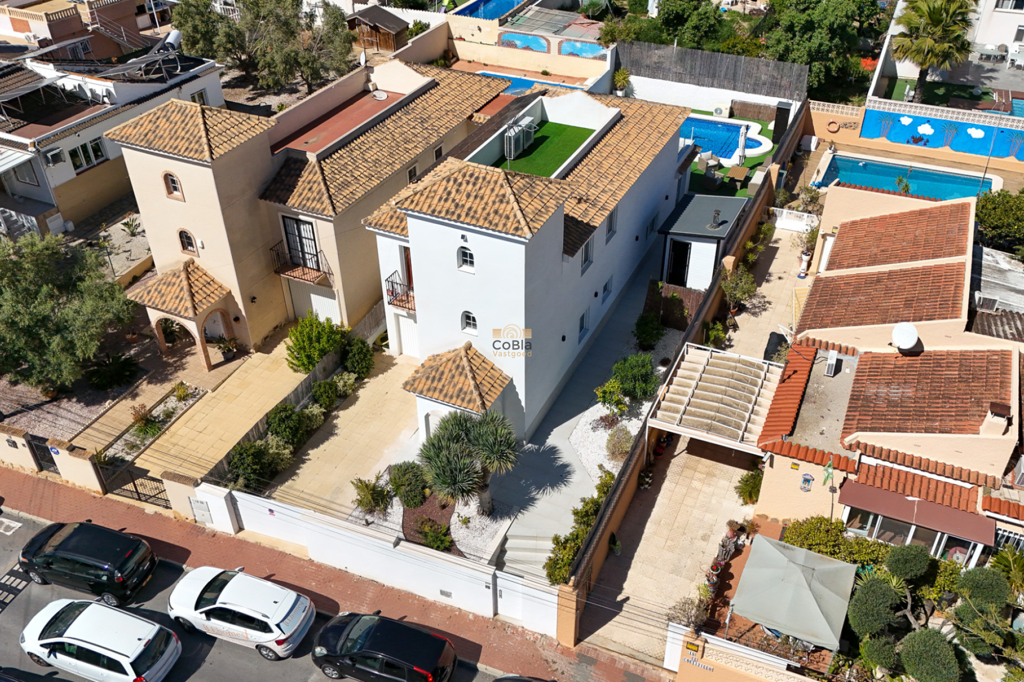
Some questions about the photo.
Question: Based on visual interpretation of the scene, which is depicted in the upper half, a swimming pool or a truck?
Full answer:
There is a swimming pool in the upper half.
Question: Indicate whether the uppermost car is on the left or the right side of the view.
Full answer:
It is on the left.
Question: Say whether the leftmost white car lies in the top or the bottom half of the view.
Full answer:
Seen from above, the leftmost white car lies in the bottom half of the view.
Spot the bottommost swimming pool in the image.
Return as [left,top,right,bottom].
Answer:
[817,147,1006,216]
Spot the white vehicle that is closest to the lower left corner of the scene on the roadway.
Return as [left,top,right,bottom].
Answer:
[19,596,186,682]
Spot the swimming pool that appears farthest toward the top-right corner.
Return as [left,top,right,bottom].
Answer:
[991,99,1024,129]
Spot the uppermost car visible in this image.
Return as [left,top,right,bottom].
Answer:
[17,518,169,612]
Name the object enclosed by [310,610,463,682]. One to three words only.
car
